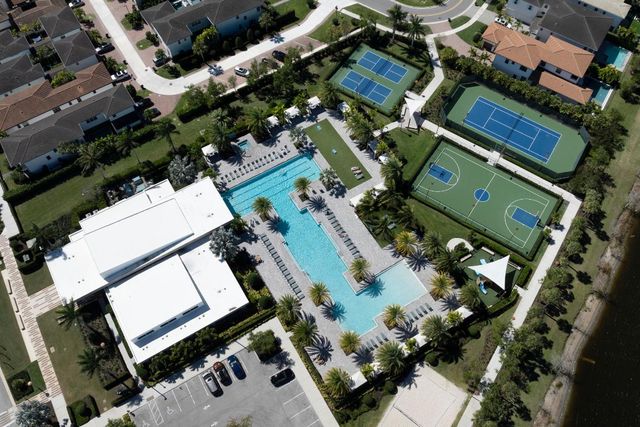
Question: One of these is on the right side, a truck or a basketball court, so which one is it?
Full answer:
You can see a basketball court on the right side.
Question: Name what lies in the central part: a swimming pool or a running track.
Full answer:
It is a swimming pool that can be seen in the central part.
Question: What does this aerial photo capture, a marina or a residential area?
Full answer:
This image shows a residential area.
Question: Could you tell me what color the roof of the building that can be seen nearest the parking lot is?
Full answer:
From above, the roof of the building that can be seen nearest the parking lot looks white.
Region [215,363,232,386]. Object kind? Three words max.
car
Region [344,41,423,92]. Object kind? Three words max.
sports court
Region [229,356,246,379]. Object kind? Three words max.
car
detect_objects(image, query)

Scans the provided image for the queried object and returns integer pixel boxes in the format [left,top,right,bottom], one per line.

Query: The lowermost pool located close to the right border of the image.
[589,83,612,106]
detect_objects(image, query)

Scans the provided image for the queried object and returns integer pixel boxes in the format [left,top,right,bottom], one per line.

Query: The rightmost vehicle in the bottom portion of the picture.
[272,368,295,385]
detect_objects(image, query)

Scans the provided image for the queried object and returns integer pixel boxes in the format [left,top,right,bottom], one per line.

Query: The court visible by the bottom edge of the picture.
[378,361,469,427]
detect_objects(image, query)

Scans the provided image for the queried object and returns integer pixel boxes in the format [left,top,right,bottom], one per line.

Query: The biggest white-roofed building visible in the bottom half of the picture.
[46,176,250,365]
